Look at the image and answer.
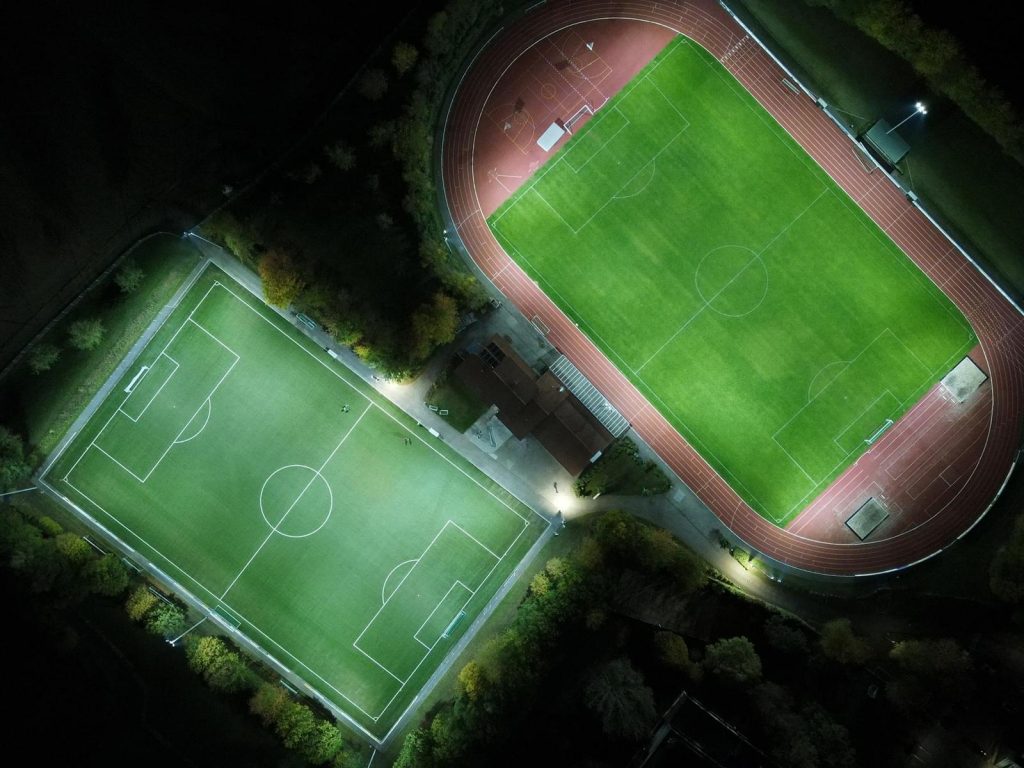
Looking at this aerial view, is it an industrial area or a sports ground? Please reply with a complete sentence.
This looks like a sports ground.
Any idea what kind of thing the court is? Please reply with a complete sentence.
I'd identify the court as a basketball court.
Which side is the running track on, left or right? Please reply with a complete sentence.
The running track is on the right side of the image.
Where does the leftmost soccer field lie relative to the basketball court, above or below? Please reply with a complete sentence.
Looking at the scene, the leftmost soccer field is located below the basketball court.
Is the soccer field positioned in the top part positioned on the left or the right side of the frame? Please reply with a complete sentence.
You can find the soccer field positioned in the top part on the right side of the picture.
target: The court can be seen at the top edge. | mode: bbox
[488,29,609,149]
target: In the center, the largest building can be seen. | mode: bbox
[453,330,614,476]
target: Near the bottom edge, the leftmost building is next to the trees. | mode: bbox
[631,685,787,768]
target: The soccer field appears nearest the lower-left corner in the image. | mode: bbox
[43,263,550,743]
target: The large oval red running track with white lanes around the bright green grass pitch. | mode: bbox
[443,0,1024,575]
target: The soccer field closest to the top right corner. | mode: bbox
[486,33,979,529]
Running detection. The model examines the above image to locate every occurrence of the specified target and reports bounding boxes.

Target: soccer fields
[43,263,550,743]
[486,33,979,529]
